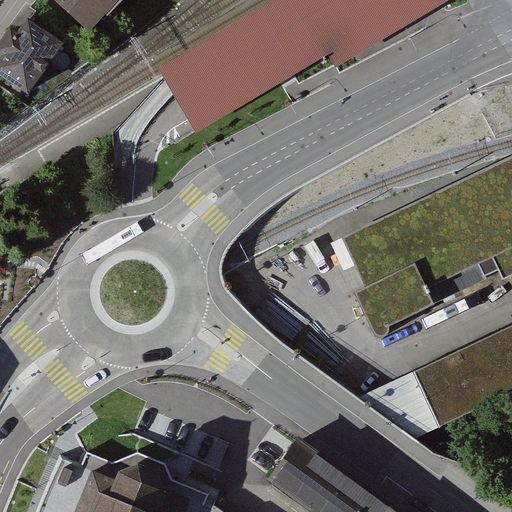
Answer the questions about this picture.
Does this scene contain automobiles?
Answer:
Yes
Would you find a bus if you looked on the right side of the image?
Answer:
Yes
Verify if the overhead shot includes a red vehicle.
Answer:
No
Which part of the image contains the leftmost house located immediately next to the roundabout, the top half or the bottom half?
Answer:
bottom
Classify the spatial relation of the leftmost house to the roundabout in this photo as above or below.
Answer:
above it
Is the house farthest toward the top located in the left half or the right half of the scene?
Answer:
left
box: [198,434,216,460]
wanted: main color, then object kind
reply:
black car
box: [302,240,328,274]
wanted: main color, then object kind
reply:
white truck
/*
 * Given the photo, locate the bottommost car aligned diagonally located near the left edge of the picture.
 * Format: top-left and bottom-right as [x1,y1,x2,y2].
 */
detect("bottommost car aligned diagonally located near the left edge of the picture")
[0,415,20,440]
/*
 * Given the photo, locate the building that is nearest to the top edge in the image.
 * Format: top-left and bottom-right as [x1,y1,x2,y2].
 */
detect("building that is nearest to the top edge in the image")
[57,0,121,31]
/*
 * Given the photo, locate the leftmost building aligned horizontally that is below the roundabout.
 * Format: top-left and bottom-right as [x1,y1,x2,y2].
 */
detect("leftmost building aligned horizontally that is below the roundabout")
[74,452,210,512]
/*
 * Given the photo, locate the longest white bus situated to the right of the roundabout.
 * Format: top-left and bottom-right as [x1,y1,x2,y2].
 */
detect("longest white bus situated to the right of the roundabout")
[420,296,474,329]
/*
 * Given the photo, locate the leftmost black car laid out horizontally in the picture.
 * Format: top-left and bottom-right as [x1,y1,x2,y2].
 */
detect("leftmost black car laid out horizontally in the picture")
[144,348,170,360]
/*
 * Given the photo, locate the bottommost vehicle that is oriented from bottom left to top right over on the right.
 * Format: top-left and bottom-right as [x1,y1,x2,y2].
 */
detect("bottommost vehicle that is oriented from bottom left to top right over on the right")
[359,370,380,392]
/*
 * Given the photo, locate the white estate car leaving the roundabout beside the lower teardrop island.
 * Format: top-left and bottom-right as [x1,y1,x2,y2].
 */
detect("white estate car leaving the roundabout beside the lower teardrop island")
[82,368,106,388]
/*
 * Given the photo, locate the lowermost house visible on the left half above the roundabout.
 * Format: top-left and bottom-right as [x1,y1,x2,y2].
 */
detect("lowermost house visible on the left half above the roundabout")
[0,18,62,94]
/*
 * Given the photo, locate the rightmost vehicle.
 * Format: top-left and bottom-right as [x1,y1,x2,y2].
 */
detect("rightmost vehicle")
[488,286,508,302]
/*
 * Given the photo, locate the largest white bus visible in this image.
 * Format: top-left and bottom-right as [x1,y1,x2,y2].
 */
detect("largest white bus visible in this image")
[80,220,146,268]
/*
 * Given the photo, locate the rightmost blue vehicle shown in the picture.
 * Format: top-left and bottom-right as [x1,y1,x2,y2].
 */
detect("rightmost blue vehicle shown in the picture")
[381,323,420,348]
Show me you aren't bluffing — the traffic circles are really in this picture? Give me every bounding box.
[0,166,256,432]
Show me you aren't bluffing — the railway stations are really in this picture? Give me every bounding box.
[158,0,450,134]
